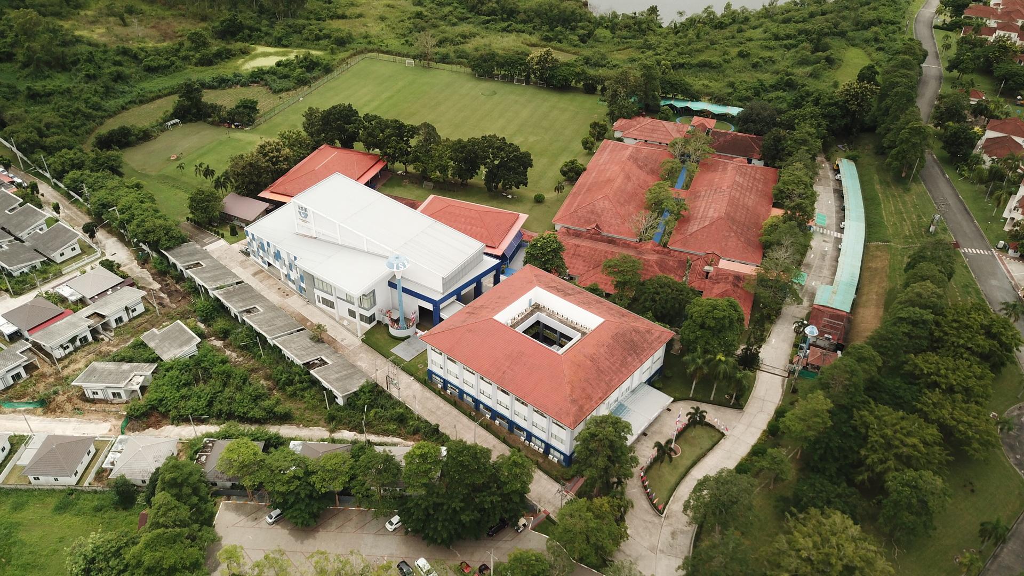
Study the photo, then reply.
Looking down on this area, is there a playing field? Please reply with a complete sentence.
Yes, there's a playing field down there.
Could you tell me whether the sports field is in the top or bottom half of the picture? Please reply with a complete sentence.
Seen from above, the sports field lies in the top half of the view.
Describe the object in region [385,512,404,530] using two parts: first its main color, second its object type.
white car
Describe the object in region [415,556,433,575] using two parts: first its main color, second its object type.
white car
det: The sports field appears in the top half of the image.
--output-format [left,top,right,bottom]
[259,57,608,213]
